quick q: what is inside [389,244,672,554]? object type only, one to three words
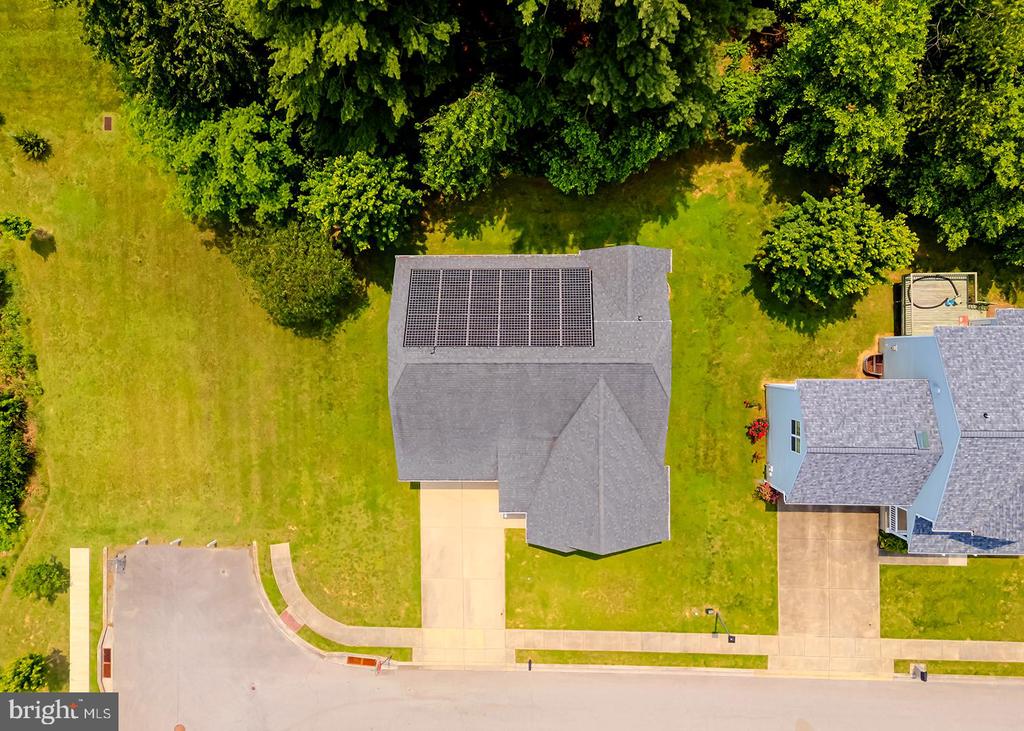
house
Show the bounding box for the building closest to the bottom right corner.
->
[765,309,1024,554]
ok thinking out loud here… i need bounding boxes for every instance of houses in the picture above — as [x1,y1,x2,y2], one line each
[389,244,672,554]
[765,309,1024,554]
